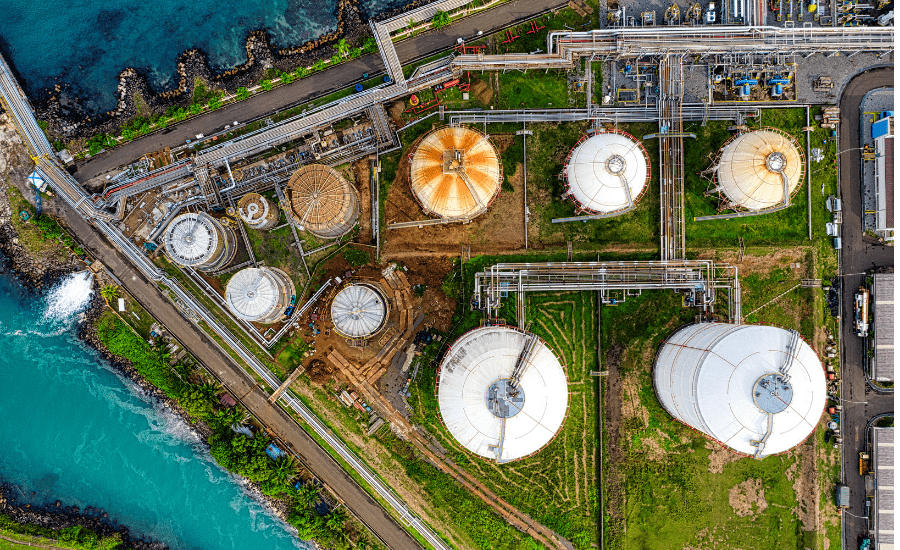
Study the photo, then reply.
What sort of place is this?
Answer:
industrial area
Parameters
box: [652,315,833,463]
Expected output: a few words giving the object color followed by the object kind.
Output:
white storage tank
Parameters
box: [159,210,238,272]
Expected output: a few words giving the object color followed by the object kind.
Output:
white storage tank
